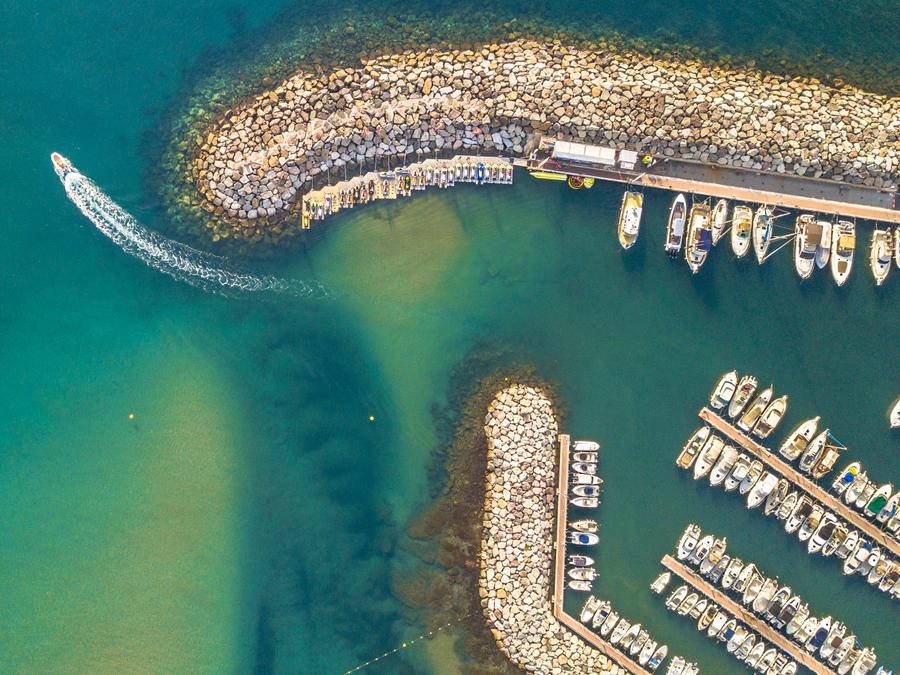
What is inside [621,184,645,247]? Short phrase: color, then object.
white boat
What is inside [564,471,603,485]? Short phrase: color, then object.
white boat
